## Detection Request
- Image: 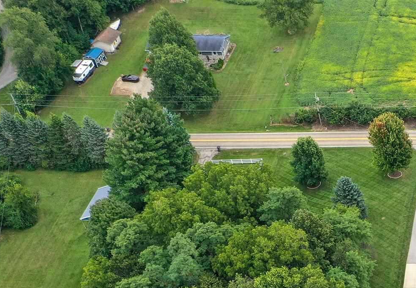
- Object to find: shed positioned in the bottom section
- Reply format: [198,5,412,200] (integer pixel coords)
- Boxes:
[80,183,118,228]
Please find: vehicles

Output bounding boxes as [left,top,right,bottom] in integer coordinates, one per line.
[73,58,94,79]
[120,73,139,81]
